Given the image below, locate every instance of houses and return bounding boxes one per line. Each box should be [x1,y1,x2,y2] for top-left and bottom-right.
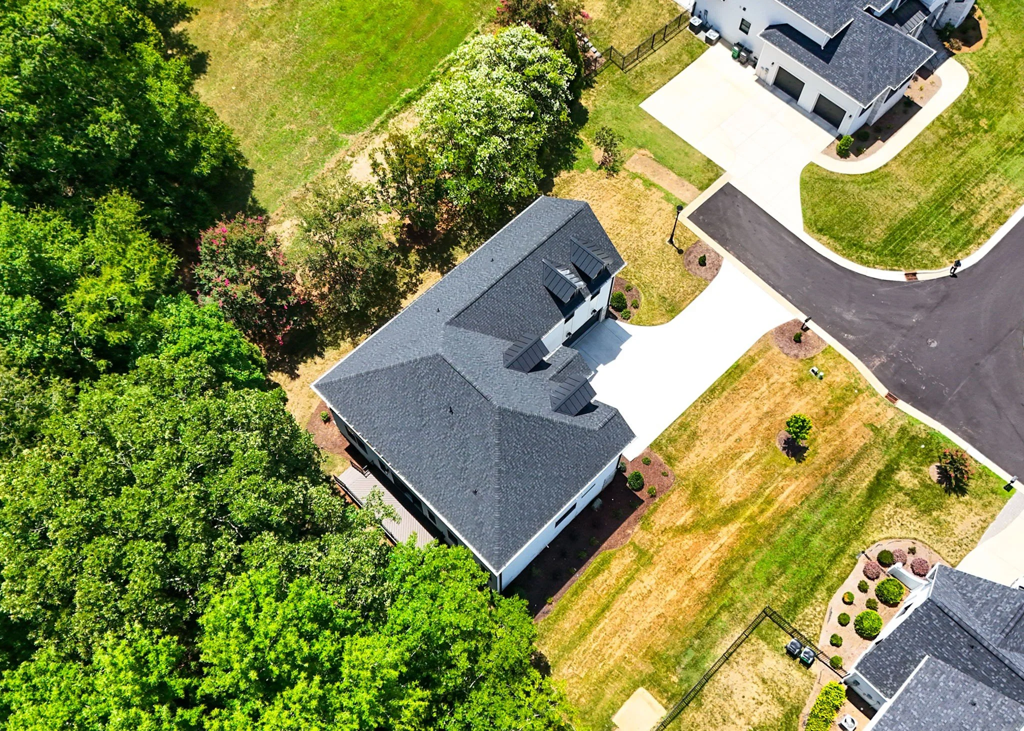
[842,563,1024,731]
[687,0,978,134]
[308,193,639,593]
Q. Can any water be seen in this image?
No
